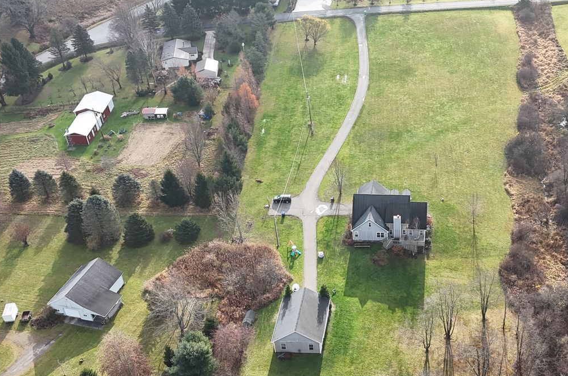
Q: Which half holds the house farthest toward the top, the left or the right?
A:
left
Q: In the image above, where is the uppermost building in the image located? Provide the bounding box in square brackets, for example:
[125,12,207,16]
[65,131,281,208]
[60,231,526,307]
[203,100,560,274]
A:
[162,38,198,68]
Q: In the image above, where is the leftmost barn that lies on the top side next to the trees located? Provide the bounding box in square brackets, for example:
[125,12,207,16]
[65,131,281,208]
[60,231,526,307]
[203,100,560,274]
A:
[60,88,117,145]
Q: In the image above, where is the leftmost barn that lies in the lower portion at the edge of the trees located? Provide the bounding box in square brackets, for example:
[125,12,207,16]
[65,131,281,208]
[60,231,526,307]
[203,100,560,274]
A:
[48,257,126,322]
